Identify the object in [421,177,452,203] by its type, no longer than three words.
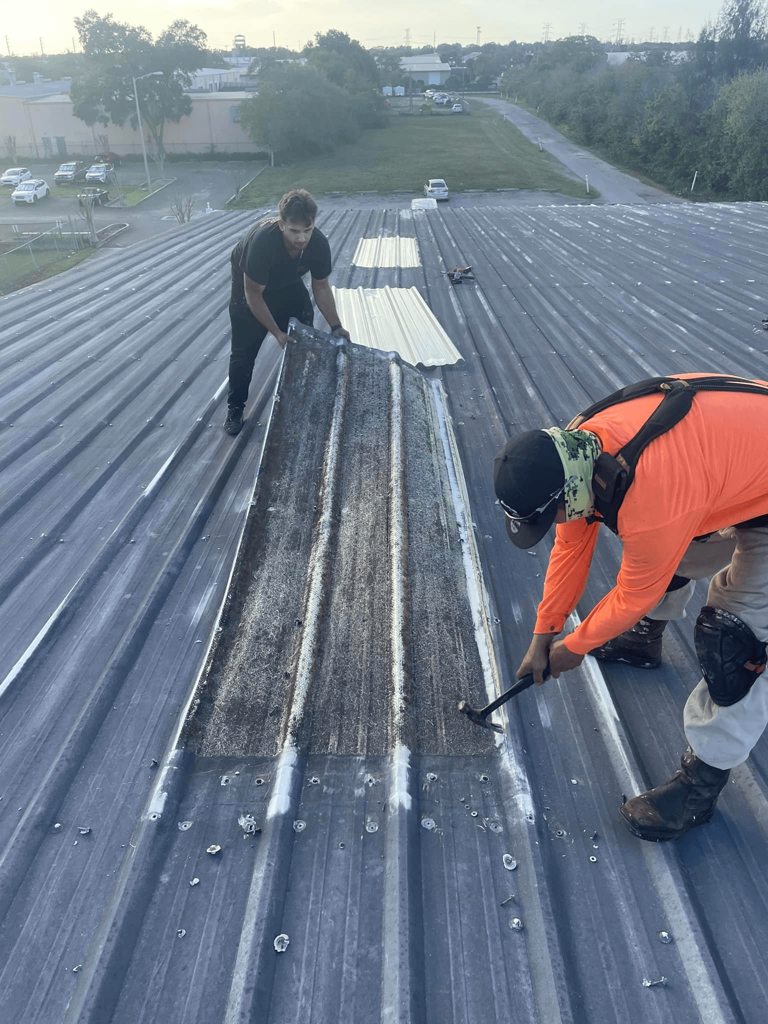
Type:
car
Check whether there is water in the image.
No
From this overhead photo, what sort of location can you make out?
industrial area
